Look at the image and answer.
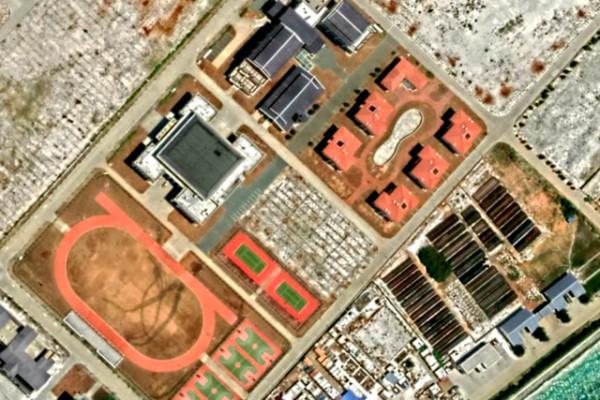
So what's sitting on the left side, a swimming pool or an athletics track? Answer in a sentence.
The one visible on the left side is an athletics track.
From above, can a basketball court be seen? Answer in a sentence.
Yes, this view includes a basketball court.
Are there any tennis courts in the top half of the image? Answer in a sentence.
No, no tennis court appears in the top half of the image.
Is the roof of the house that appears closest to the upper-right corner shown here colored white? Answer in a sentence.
No, the roof of the house that appears closest to the upper-right corner is red.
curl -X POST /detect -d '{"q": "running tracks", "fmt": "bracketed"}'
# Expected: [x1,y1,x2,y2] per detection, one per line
[54,190,238,372]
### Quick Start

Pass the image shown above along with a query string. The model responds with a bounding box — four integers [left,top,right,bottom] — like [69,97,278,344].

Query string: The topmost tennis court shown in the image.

[221,229,281,290]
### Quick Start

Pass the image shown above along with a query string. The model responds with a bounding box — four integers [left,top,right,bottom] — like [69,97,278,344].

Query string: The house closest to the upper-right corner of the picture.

[444,113,482,154]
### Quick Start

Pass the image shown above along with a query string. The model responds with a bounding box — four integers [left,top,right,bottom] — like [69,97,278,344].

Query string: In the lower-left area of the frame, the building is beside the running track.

[0,308,64,395]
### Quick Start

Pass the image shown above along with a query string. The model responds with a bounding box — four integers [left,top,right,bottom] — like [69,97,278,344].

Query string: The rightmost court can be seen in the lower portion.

[266,270,321,327]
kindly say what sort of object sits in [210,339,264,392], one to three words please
basketball court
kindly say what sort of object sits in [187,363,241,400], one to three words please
basketball court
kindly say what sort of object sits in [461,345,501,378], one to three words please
building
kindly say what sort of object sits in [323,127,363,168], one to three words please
house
